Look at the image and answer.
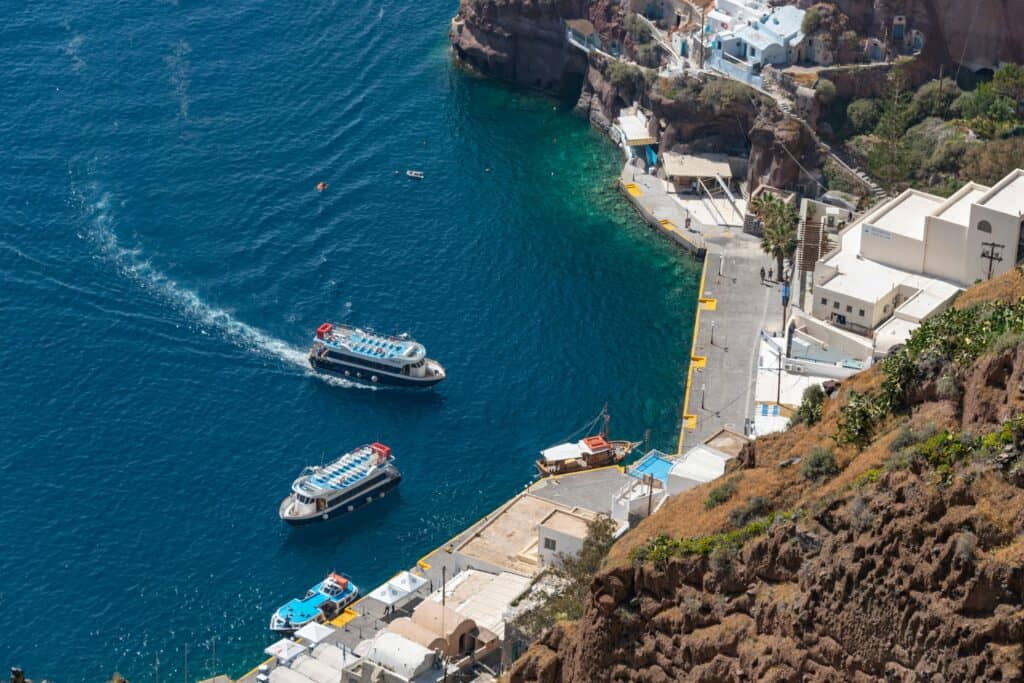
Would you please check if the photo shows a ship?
Yes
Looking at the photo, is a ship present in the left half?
Yes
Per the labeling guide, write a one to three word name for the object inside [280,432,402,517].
ship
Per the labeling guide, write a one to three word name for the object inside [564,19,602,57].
house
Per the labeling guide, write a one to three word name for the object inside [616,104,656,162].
building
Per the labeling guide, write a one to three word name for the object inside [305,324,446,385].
ship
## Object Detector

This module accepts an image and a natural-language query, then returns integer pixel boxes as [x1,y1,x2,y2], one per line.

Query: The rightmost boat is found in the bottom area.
[538,398,639,476]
